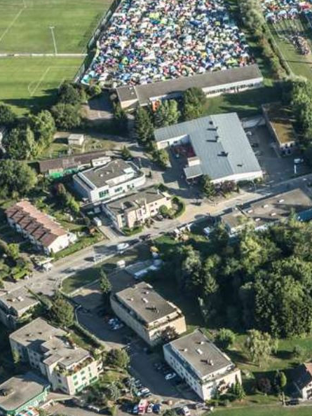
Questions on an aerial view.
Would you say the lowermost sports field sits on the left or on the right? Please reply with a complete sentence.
The lowermost sports field appears in the left half of the scene.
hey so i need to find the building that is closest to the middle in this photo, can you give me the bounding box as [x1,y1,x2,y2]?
[112,185,173,229]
